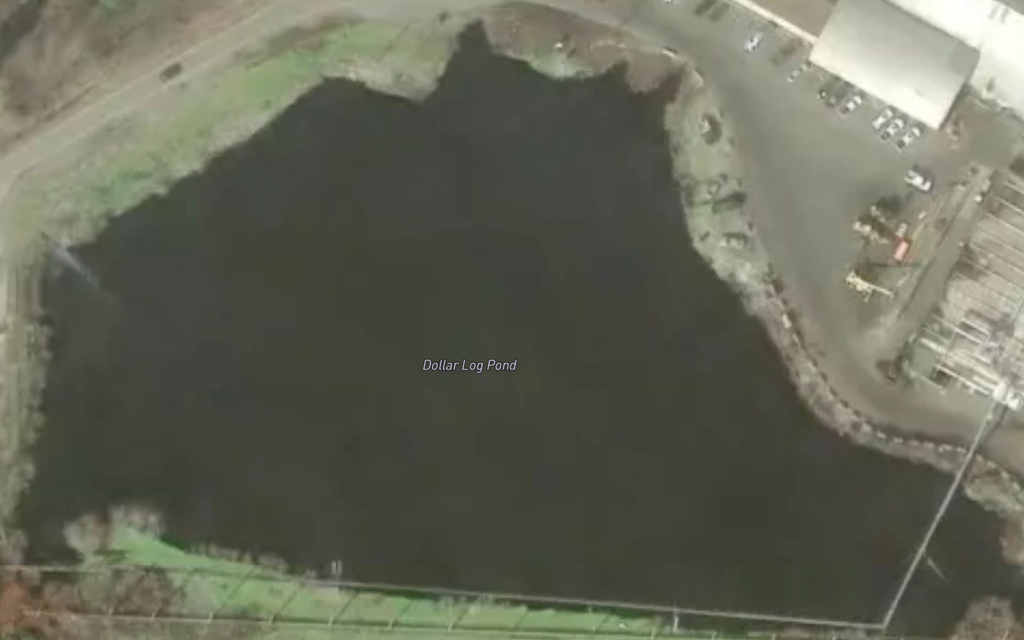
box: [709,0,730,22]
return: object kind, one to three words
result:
car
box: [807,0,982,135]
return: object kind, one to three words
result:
building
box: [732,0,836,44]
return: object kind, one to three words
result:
building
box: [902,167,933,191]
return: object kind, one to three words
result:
truck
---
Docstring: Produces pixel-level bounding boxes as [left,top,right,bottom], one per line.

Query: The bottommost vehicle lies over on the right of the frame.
[846,267,901,301]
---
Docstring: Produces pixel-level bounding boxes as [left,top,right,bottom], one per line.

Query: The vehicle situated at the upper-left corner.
[159,62,183,81]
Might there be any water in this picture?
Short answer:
Yes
